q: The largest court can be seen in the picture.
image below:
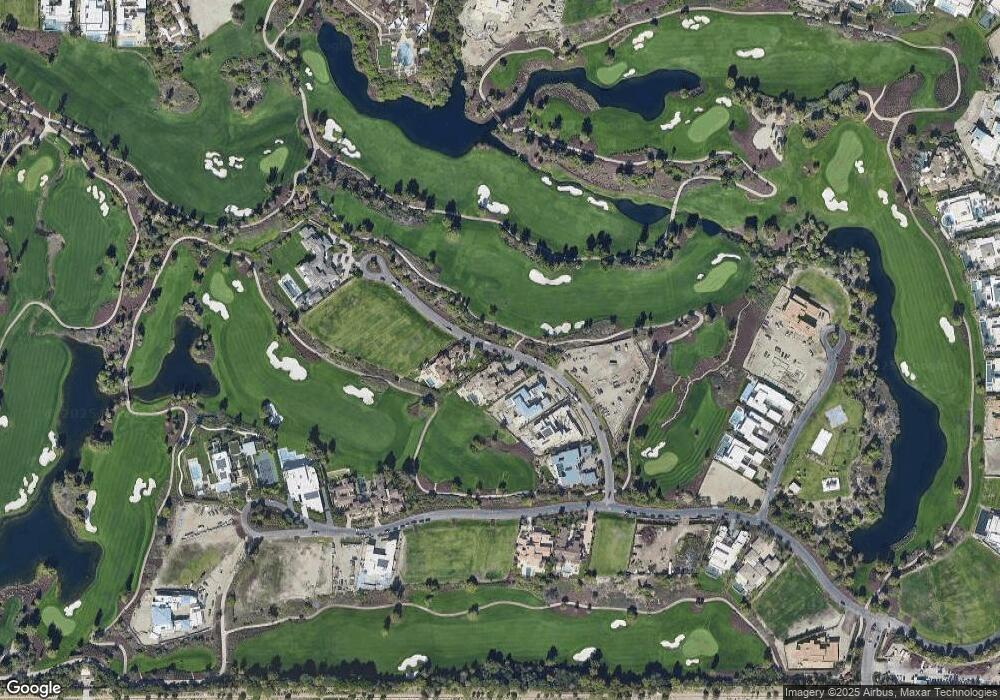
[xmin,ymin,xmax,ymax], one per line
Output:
[256,449,279,485]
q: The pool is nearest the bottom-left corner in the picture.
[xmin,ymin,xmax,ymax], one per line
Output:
[189,462,203,486]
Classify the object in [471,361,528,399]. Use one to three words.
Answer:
house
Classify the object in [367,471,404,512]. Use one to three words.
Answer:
house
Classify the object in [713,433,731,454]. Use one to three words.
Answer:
swimming pool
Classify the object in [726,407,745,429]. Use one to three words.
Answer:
swimming pool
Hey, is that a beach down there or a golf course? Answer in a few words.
golf course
